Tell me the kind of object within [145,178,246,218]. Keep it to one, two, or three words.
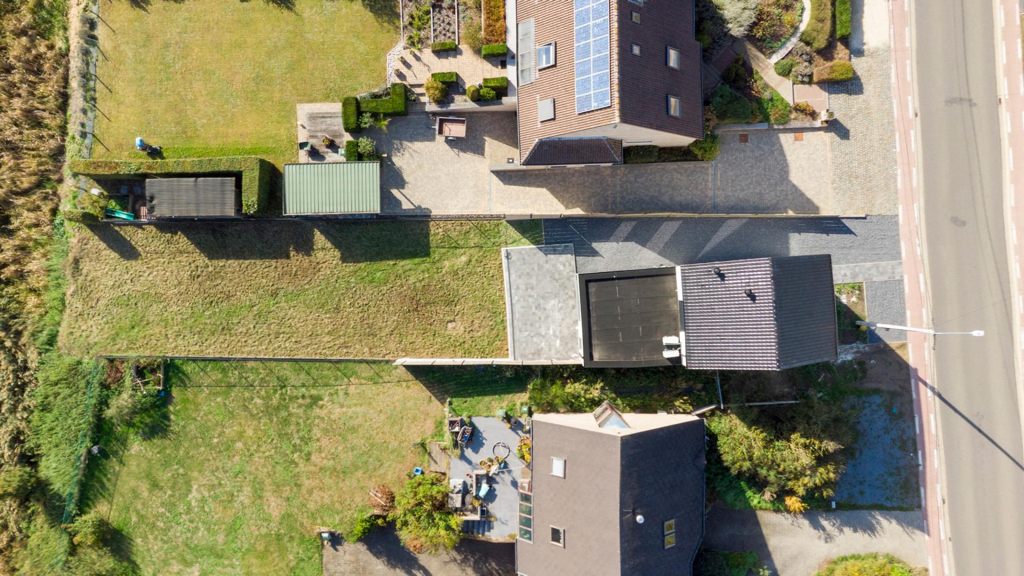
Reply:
shed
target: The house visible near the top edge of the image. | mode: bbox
[512,0,705,171]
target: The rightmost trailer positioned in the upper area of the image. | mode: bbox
[430,112,467,142]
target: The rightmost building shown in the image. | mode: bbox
[666,255,838,371]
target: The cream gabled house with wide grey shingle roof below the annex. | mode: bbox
[515,401,706,576]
